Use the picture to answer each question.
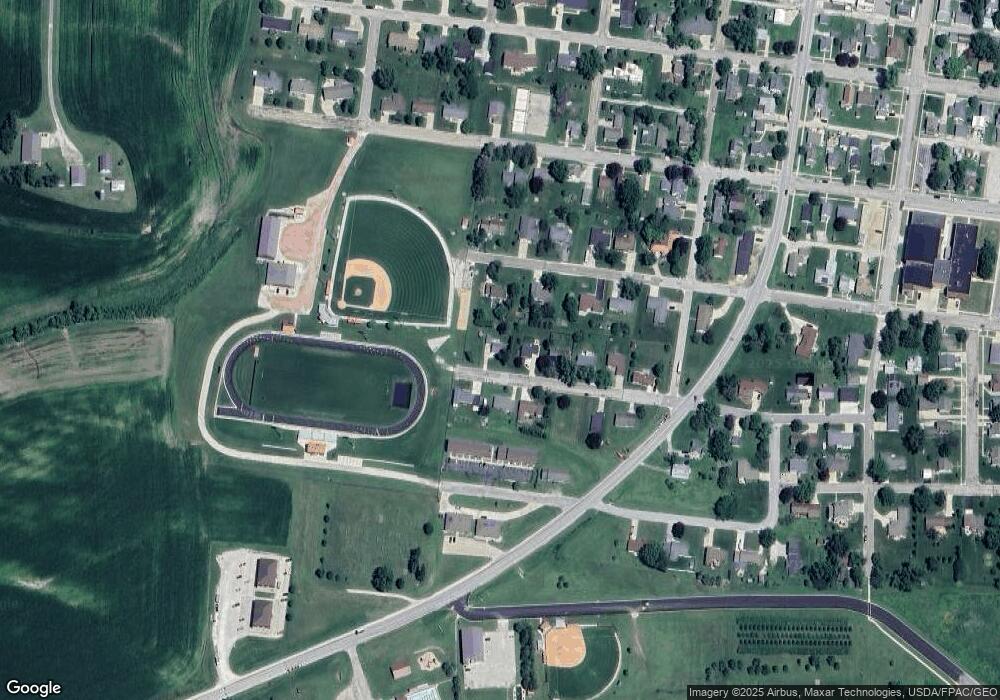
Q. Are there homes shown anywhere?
Yes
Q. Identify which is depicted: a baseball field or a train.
baseball field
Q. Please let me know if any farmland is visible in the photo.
Yes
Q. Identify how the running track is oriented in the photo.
horizontally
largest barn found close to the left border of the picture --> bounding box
[22,132,42,165]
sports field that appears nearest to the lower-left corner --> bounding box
[235,344,416,425]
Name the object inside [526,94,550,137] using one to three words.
sports court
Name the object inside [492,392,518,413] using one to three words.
house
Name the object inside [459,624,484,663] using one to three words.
building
